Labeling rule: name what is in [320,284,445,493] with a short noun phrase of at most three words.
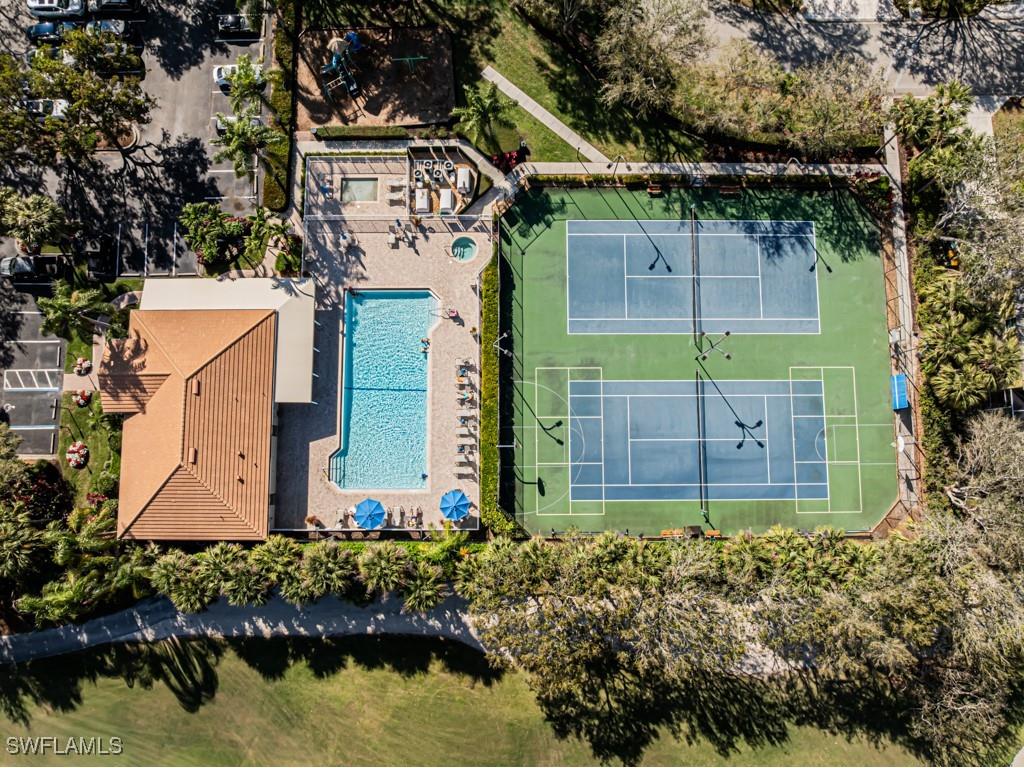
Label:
swimming pool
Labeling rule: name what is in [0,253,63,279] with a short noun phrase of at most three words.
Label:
vehicle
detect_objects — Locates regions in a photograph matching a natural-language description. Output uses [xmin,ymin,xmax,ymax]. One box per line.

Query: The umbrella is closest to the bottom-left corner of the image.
[353,498,386,530]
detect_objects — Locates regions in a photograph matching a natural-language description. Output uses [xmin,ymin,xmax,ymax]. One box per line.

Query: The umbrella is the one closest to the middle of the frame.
[440,490,470,520]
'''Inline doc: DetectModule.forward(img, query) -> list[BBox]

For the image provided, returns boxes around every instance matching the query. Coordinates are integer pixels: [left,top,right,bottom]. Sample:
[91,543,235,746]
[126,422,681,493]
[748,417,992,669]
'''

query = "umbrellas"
[353,498,386,530]
[440,490,470,520]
